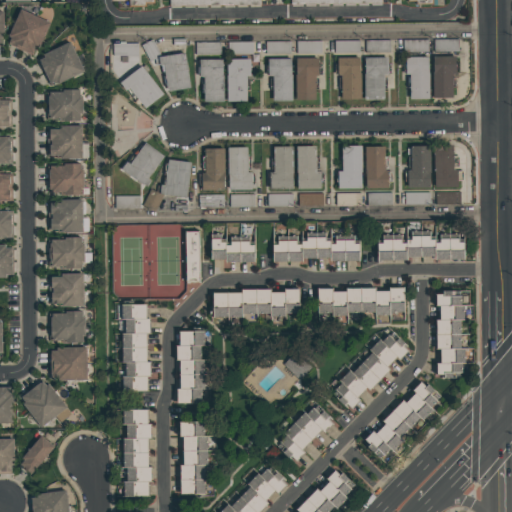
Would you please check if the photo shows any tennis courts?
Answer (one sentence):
Yes, the photo shows a tennis court.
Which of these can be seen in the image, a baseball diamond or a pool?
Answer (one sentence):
This aerial view contains a pool.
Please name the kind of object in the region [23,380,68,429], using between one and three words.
house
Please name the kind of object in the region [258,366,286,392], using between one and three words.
swimming pool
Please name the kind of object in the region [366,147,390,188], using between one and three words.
building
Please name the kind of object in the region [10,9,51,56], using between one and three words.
house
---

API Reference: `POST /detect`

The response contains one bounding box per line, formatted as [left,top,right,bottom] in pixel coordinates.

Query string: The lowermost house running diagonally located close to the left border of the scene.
[22,436,55,474]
